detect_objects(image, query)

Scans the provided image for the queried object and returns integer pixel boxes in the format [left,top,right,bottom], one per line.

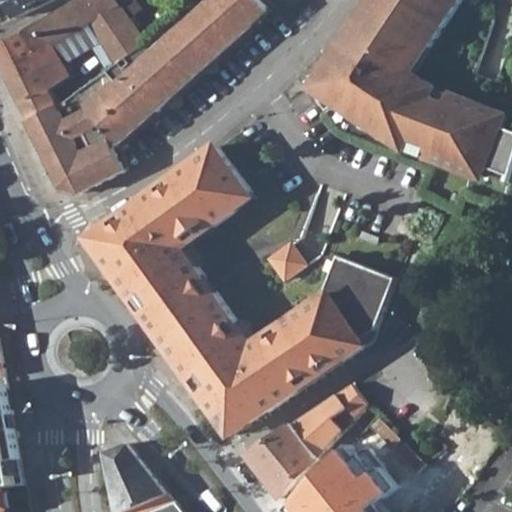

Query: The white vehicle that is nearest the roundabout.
[27,334,40,356]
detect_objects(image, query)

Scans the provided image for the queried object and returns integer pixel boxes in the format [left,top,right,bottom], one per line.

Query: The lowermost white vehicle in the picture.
[199,487,227,512]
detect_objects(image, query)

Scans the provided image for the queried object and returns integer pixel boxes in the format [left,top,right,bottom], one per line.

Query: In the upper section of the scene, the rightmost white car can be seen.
[401,167,417,188]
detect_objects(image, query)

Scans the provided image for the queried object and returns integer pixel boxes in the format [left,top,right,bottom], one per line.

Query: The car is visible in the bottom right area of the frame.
[396,404,415,416]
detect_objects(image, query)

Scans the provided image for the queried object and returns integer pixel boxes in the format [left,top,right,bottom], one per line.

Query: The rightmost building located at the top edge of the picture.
[304,0,508,182]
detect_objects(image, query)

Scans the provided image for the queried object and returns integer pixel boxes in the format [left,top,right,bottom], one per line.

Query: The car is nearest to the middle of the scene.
[284,176,302,192]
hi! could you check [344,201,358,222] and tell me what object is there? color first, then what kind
white vehicle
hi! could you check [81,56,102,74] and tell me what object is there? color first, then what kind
white vehicle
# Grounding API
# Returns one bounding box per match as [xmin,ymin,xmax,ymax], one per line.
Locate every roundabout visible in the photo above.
[46,318,110,384]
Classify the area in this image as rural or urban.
urban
